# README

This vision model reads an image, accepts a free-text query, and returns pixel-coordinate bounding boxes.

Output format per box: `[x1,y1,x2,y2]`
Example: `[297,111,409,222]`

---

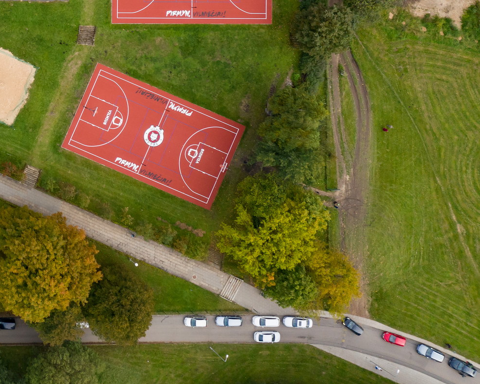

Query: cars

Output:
[380,329,410,350]
[447,356,480,380]
[0,318,15,329]
[254,331,281,345]
[415,343,448,366]
[215,315,244,329]
[251,315,281,329]
[184,316,209,329]
[282,316,313,329]
[341,318,367,338]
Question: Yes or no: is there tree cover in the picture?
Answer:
Yes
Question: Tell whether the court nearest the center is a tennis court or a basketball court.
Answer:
basketball court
